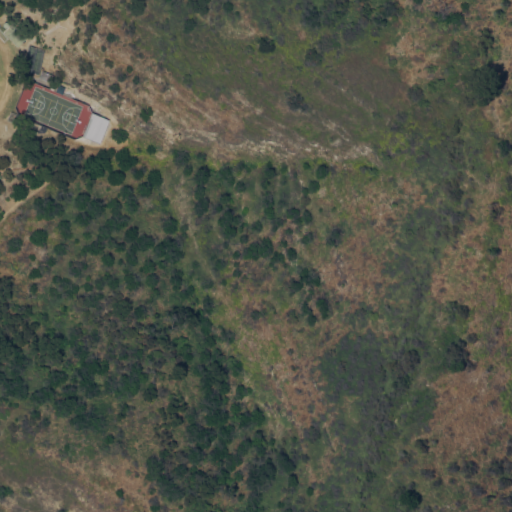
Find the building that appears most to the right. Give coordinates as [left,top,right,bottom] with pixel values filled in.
[83,114,110,143]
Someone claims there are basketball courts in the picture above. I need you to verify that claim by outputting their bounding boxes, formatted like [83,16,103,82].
[17,82,92,138]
